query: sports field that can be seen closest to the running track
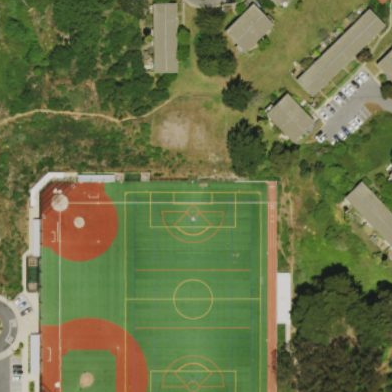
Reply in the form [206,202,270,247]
[40,182,268,392]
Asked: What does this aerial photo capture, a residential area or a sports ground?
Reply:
sports ground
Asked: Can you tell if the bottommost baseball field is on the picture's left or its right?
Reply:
left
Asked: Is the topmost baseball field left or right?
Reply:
left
